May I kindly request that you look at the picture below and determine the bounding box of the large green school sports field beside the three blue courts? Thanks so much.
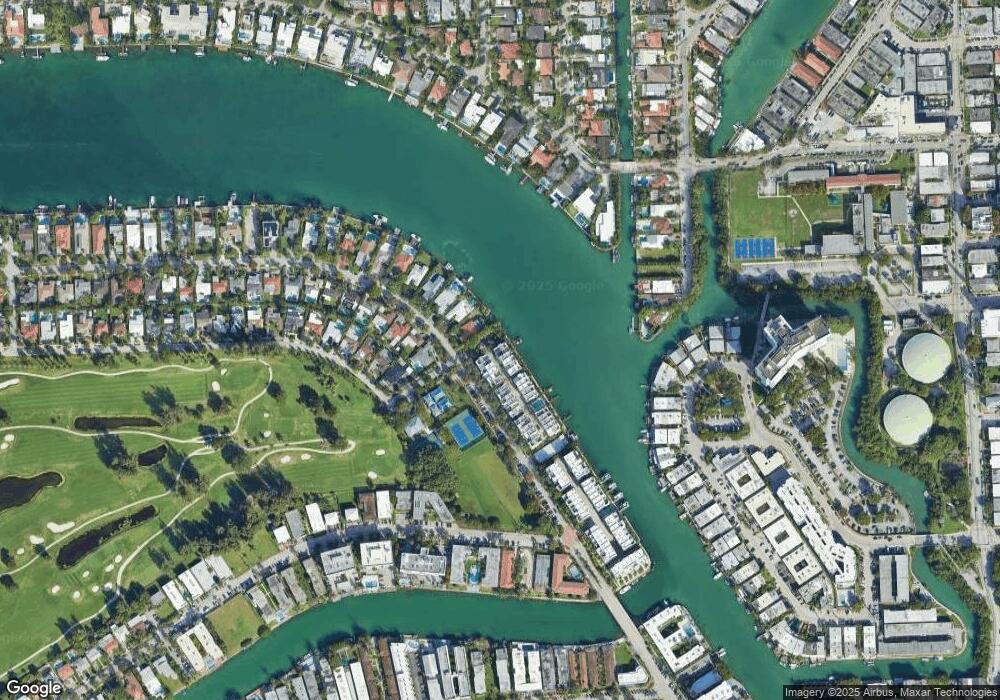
[730,167,812,251]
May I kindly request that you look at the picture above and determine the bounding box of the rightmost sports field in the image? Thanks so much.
[793,193,853,238]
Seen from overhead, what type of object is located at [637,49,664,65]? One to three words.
house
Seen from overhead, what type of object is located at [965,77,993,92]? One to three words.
building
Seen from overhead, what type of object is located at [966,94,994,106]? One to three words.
building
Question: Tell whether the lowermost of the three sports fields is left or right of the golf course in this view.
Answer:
right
